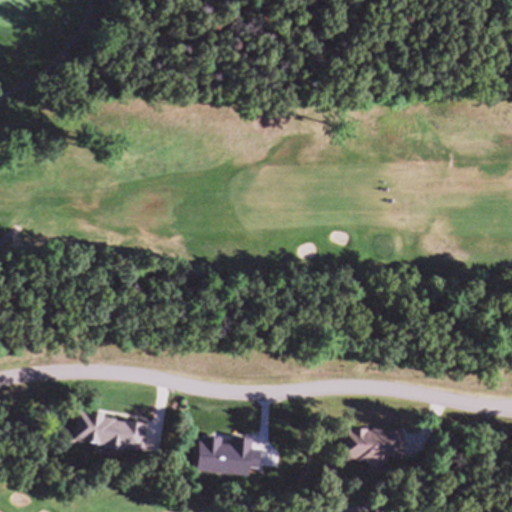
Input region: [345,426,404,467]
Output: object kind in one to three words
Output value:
house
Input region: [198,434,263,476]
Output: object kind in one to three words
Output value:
house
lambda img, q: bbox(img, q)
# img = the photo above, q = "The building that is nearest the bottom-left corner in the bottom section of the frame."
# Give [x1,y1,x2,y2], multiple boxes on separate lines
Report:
[68,408,144,450]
